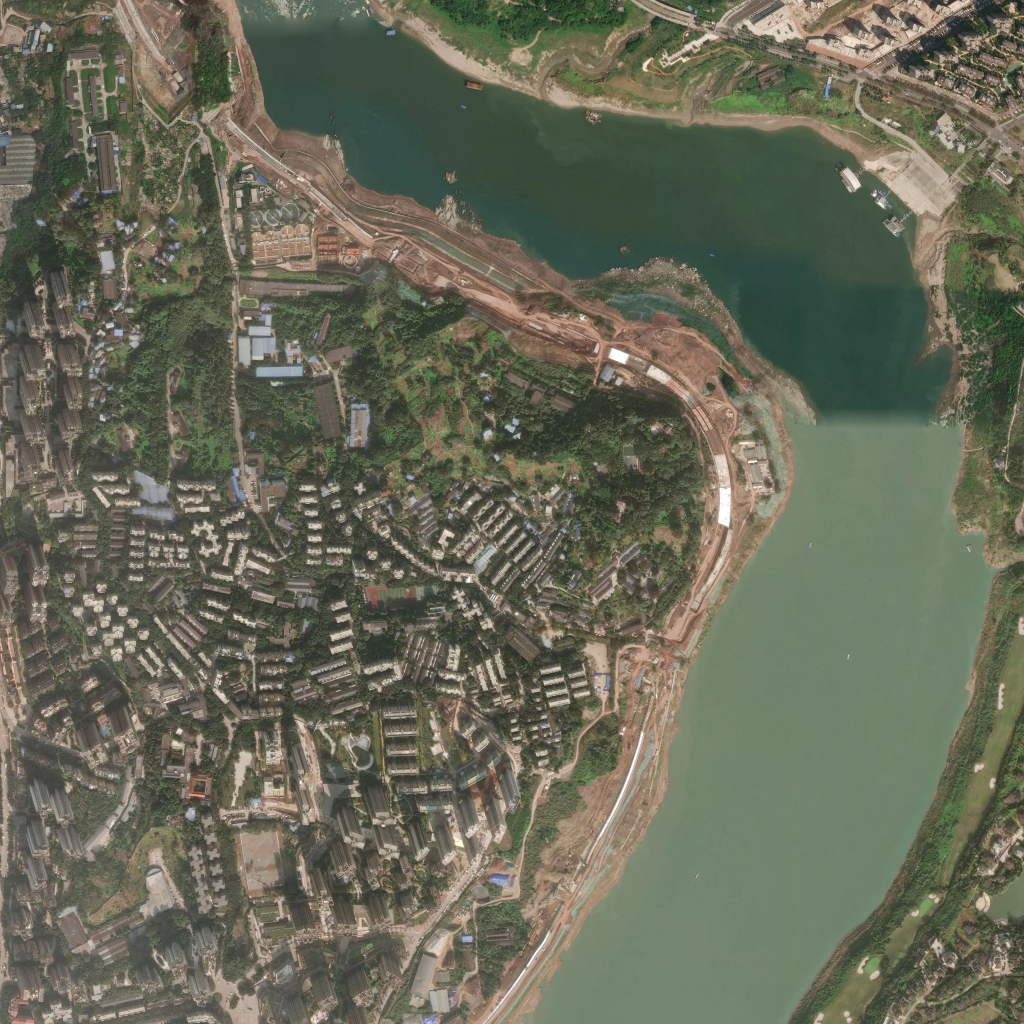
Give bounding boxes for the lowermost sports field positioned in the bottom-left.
[235,827,295,902]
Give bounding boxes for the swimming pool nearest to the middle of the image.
[349,735,373,768]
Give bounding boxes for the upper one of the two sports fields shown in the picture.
[366,585,438,608]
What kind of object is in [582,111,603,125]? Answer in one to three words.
ship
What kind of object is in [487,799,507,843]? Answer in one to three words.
building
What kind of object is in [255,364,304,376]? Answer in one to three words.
shed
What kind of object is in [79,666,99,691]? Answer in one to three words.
building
